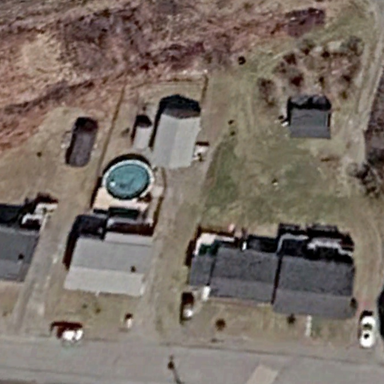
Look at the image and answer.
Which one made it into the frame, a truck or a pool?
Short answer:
pool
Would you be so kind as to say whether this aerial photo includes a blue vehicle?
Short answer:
No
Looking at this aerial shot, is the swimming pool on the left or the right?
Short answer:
left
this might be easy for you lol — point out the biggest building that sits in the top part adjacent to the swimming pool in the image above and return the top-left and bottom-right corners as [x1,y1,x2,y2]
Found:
[153,115,201,168]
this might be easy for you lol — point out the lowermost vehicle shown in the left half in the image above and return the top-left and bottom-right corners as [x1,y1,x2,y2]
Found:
[58,325,86,342]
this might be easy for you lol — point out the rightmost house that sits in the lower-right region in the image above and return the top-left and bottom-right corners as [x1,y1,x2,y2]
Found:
[274,256,356,320]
